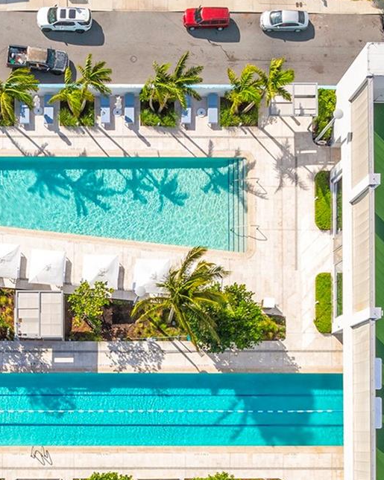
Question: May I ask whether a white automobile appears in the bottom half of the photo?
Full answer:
No, I can find no white automobile in the bottom half of the photo.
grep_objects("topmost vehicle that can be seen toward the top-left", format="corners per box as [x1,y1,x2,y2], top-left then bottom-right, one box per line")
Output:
[37,5,92,34]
